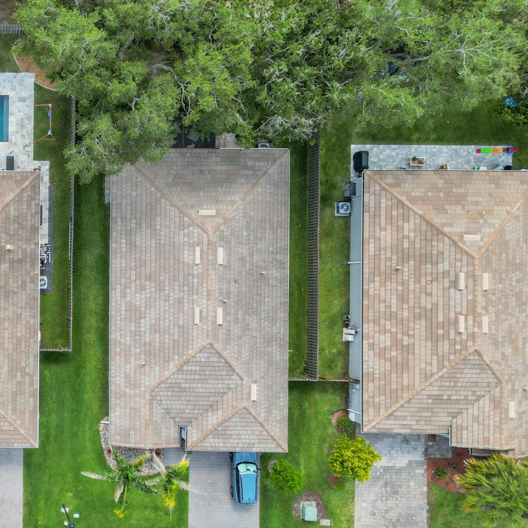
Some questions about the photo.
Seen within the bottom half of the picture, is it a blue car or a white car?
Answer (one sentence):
Looking within the bottom half of the picture, you will find a blue car.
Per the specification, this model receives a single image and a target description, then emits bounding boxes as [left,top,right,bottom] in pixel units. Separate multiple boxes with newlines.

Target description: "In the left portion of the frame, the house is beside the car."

[103,147,294,453]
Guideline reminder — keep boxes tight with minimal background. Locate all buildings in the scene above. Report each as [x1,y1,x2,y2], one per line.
[0,170,42,449]
[342,168,528,456]
[103,147,294,453]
